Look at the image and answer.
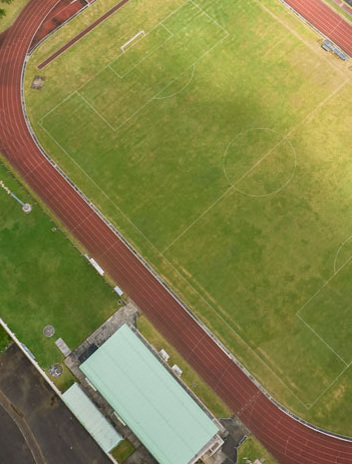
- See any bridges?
No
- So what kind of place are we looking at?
sports ground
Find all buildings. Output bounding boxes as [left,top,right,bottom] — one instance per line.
[80,324,231,464]
[63,380,122,451]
